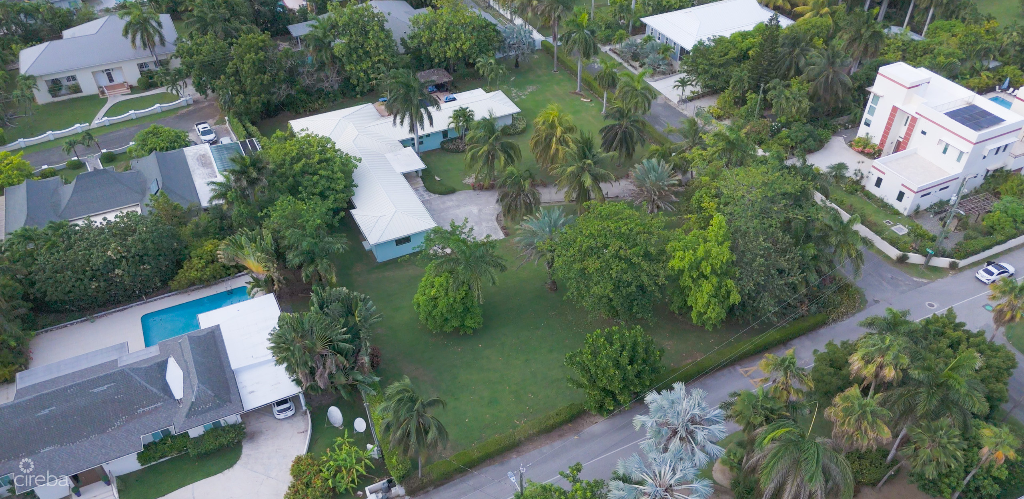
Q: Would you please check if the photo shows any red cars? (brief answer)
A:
No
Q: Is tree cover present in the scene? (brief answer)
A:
Yes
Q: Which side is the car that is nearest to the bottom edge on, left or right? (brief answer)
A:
left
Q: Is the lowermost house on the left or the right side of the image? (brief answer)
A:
left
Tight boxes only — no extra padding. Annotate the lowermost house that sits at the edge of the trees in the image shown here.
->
[0,293,307,499]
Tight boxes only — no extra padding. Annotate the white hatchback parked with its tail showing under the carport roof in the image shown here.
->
[273,398,297,427]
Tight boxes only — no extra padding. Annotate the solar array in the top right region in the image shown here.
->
[939,103,1012,132]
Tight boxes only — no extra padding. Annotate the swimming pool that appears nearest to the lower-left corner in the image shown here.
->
[0,275,262,396]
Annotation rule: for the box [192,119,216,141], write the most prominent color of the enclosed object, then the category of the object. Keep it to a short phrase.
white truck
